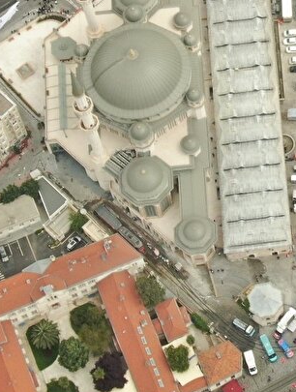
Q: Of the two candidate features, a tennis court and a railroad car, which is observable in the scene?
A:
railroad car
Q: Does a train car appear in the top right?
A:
No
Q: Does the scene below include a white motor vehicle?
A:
Yes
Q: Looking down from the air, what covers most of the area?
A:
buildings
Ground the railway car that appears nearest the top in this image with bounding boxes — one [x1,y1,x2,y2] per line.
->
[96,205,122,231]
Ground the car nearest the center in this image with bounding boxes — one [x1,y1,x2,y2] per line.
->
[66,236,82,252]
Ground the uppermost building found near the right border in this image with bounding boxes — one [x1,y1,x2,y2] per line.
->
[208,0,293,259]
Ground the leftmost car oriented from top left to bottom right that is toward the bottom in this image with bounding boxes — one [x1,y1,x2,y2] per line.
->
[235,318,254,335]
